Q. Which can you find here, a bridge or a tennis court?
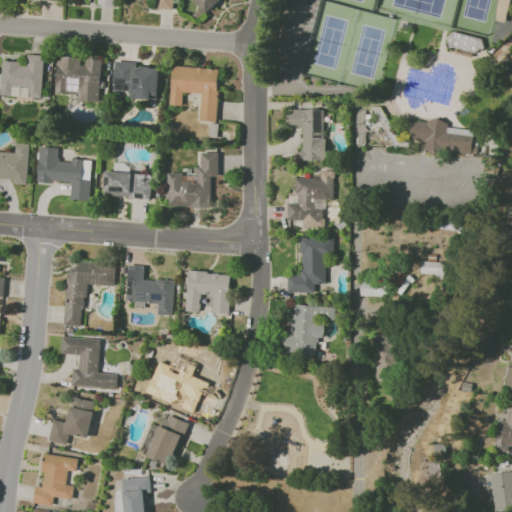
tennis court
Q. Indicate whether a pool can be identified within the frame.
Yes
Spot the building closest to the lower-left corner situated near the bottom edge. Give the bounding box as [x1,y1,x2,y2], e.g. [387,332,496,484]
[32,454,80,506]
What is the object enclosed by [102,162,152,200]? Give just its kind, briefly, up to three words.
house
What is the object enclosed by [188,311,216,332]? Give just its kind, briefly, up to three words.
swimming pool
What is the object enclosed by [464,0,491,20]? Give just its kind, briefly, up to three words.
tennis court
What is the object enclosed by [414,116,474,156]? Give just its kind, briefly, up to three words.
building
